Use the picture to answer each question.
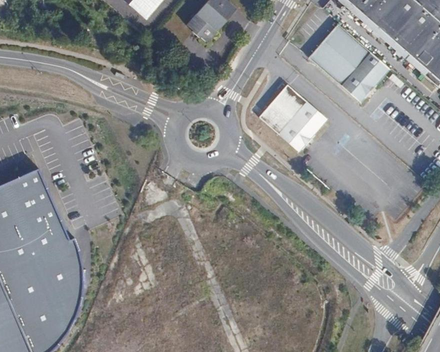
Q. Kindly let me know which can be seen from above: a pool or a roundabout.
roundabout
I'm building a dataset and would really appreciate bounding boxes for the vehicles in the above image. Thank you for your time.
[390,110,399,119]
[429,112,438,122]
[385,106,394,115]
[68,212,79,218]
[408,125,418,134]
[432,158,440,169]
[412,128,422,138]
[207,150,218,157]
[82,148,93,156]
[410,96,420,105]
[401,88,410,97]
[266,170,276,179]
[415,100,425,110]
[394,114,404,123]
[88,162,100,170]
[52,173,63,180]
[424,108,434,117]
[404,121,414,130]
[54,178,65,186]
[10,114,18,124]
[218,88,228,98]
[420,104,430,113]
[224,106,230,116]
[399,117,409,126]
[414,145,425,156]
[84,156,95,162]
[406,92,416,101]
